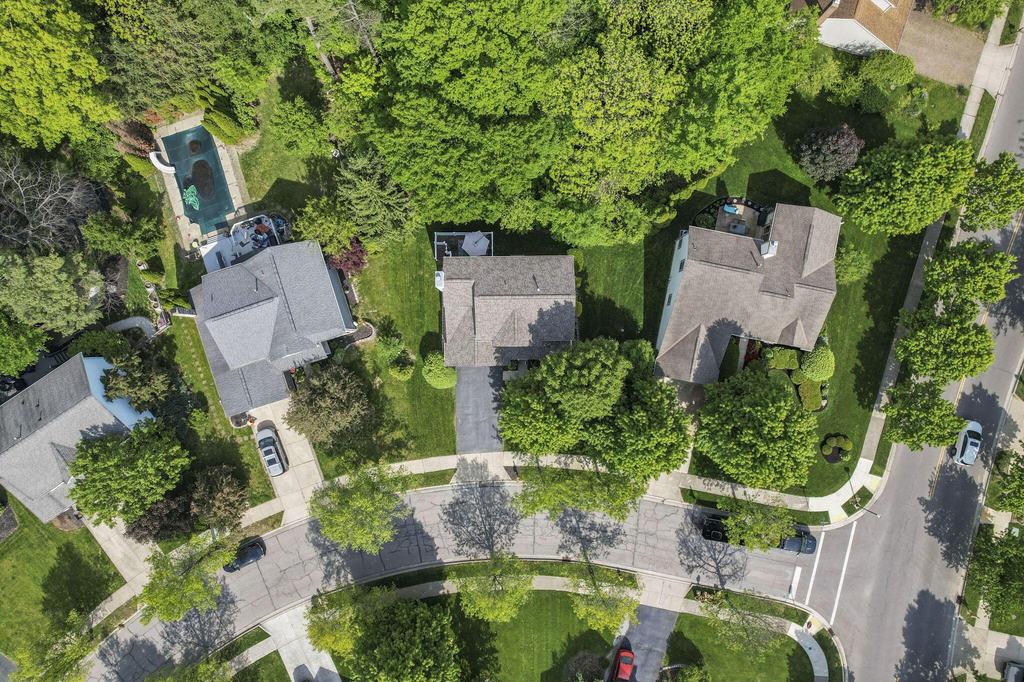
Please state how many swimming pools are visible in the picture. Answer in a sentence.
My tally gives 1 swimming pool in this photo.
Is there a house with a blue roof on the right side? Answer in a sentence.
No, there's no house with a blue roof to be seen on the right side.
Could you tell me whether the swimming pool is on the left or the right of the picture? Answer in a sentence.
It is on the left.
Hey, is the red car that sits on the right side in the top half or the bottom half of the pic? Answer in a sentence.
The bottom half of the photo is where the red car that sits on the right side is.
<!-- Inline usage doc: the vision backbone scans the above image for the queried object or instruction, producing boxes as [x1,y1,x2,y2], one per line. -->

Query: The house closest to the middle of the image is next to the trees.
[435,255,575,366]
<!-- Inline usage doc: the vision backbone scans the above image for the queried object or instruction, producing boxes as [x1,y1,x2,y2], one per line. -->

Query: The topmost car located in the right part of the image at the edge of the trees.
[952,417,985,466]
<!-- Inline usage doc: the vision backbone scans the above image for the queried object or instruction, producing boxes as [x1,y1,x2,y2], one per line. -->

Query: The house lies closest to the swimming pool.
[169,240,355,418]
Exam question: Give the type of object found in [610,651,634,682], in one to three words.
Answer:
car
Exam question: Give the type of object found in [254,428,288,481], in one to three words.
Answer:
car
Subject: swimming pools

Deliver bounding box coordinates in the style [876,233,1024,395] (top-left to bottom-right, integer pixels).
[152,116,260,262]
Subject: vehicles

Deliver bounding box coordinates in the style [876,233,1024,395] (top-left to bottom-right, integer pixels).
[952,417,985,466]
[610,651,634,682]
[750,530,814,557]
[222,539,269,571]
[697,518,747,546]
[1002,659,1024,682]
[254,428,288,481]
